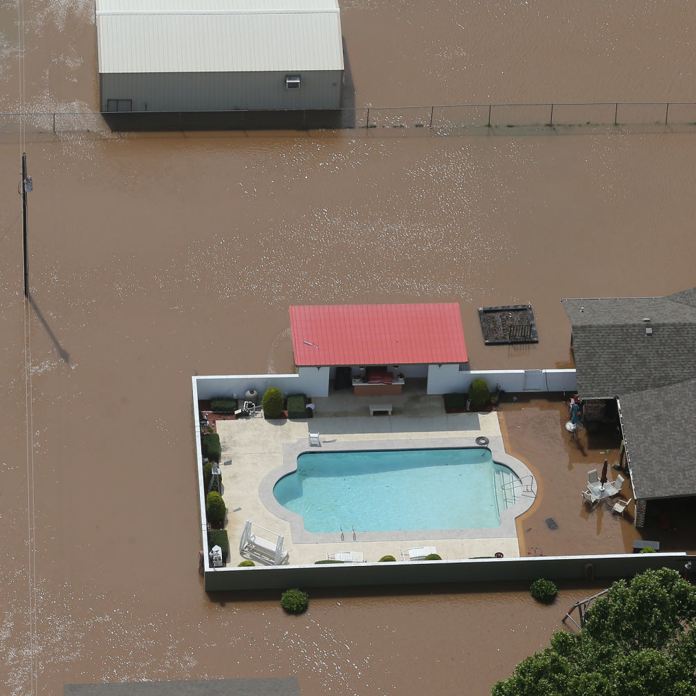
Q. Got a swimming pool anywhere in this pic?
Yes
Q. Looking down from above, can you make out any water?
Yes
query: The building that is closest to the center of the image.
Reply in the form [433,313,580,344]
[290,303,469,396]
